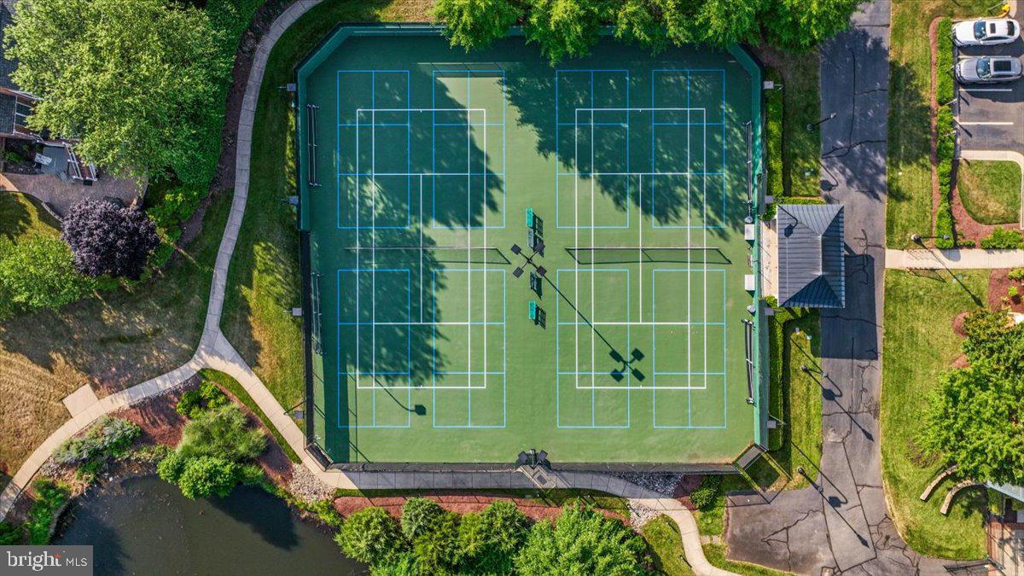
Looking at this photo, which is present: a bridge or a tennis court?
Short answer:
tennis court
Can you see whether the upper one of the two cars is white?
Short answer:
Yes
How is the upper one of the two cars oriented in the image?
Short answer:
from side to side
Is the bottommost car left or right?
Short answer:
right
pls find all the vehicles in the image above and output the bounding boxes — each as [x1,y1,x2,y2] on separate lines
[955,54,1024,84]
[953,17,1020,46]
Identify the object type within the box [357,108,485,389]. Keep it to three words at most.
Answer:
tennis court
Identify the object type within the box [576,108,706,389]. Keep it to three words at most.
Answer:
tennis court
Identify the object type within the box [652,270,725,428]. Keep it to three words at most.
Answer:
sports court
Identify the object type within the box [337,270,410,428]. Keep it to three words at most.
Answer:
sports court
